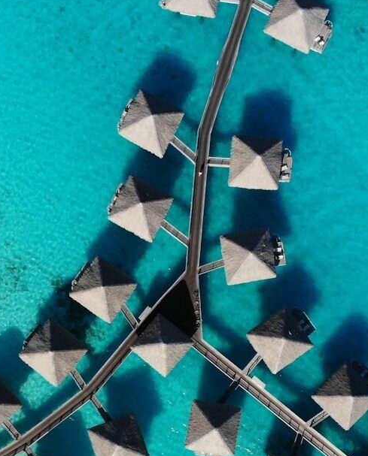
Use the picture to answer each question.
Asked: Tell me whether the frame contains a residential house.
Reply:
Yes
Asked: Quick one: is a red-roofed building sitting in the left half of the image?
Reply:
No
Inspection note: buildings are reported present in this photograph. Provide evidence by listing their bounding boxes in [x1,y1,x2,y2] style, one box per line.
[86,410,152,456]
[245,304,316,376]
[116,90,186,157]
[182,397,243,456]
[0,377,22,427]
[218,228,286,287]
[129,310,195,378]
[68,255,138,324]
[16,317,89,388]
[262,0,334,54]
[107,175,175,241]
[310,358,368,431]
[226,135,293,192]
[162,0,219,19]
